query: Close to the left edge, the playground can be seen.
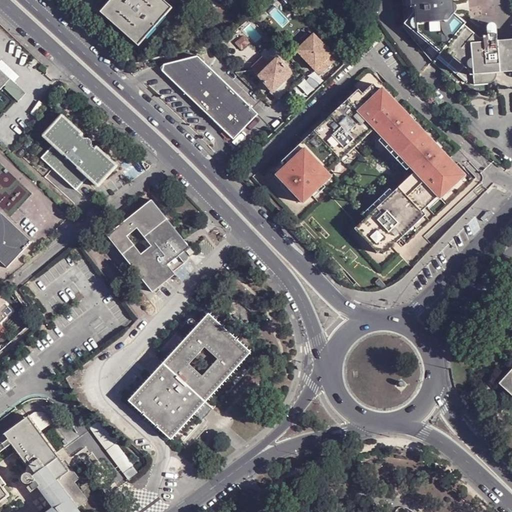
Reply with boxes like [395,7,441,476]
[0,164,31,217]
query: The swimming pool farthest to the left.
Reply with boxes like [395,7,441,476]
[244,24,264,43]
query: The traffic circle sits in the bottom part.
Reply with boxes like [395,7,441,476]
[320,308,447,434]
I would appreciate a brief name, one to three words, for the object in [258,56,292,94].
house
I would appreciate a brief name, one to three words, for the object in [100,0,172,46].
building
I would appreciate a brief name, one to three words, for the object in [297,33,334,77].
house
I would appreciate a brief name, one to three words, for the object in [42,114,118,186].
building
